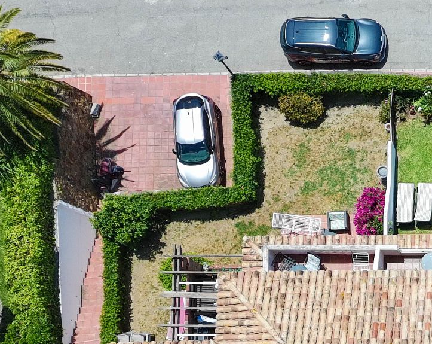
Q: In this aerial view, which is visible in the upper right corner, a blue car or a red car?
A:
blue car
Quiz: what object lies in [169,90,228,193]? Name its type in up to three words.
car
